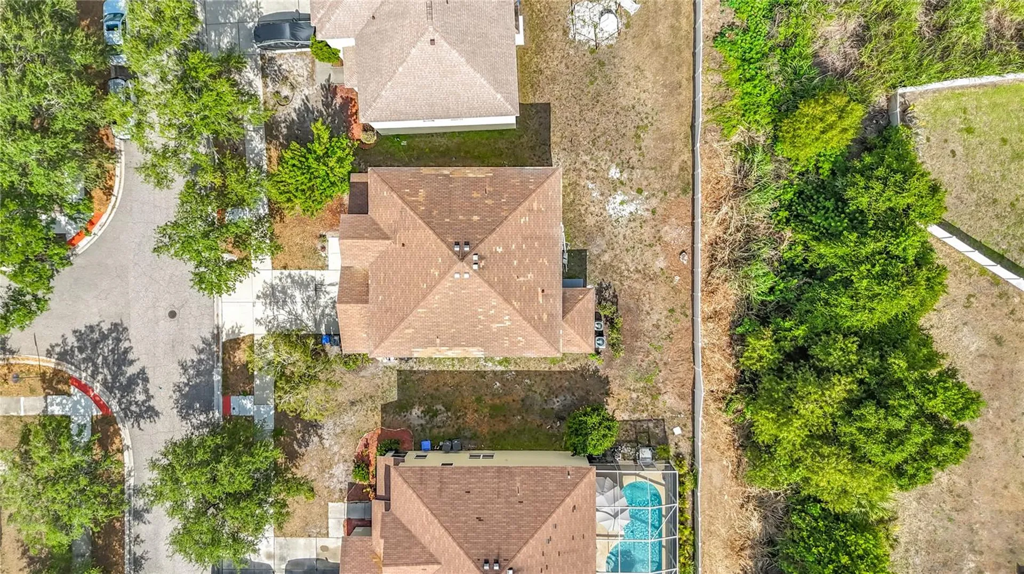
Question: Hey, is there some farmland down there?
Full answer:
No, the picture contains no farmland.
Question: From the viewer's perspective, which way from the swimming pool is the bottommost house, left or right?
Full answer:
It is on the left side of the swimming pool that the bottommost house is positioned.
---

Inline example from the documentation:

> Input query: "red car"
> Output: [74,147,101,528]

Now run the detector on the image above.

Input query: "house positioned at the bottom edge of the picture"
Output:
[336,452,596,574]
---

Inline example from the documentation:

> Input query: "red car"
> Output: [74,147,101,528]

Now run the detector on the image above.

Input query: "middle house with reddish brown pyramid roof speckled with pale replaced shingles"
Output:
[335,165,596,358]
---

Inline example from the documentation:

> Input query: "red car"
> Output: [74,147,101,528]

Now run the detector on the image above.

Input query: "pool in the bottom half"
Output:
[602,478,665,574]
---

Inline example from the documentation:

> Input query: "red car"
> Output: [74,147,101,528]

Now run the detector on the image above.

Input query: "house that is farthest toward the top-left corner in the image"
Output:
[301,0,523,134]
